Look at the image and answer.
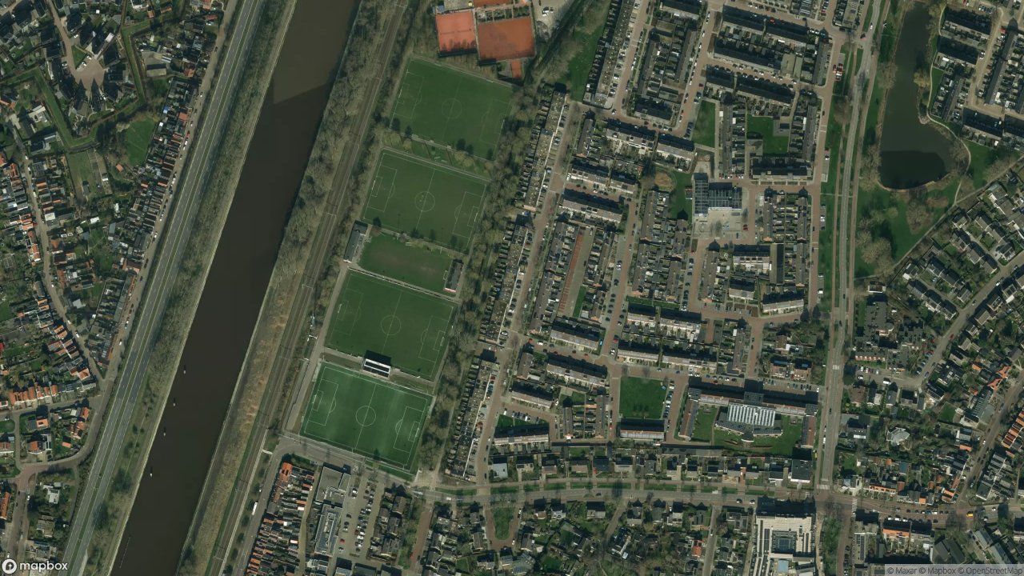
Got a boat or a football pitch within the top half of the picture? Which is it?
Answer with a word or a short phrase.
football pitch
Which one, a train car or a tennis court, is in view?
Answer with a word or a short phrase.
tennis court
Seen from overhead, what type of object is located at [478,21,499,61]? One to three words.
tennis court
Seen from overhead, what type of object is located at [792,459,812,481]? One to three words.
house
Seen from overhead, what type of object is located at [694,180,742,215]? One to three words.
building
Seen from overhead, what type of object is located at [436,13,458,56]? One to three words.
tennis court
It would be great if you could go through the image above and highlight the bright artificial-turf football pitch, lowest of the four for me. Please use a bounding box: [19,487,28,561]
[298,362,433,471]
